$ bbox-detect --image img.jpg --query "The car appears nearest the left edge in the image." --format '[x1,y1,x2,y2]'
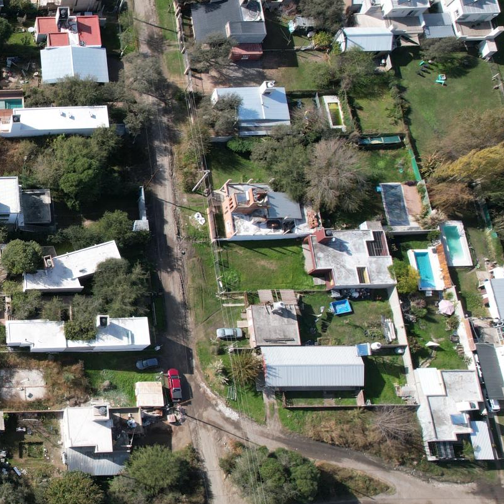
[134,356,162,371]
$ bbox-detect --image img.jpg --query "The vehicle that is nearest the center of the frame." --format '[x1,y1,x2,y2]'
[215,326,244,340]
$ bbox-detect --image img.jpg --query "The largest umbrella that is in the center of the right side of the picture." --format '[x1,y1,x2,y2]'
[436,295,455,313]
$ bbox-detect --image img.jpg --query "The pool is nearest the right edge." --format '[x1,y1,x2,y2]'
[441,220,473,266]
